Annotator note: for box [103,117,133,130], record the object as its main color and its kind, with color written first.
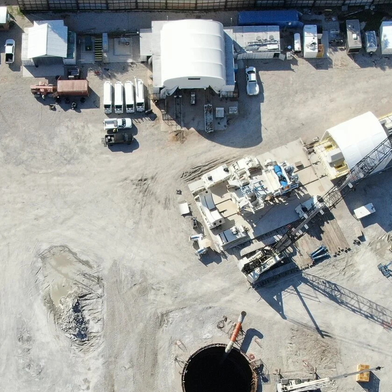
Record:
white vehicle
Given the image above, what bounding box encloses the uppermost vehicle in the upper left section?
[3,38,16,67]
